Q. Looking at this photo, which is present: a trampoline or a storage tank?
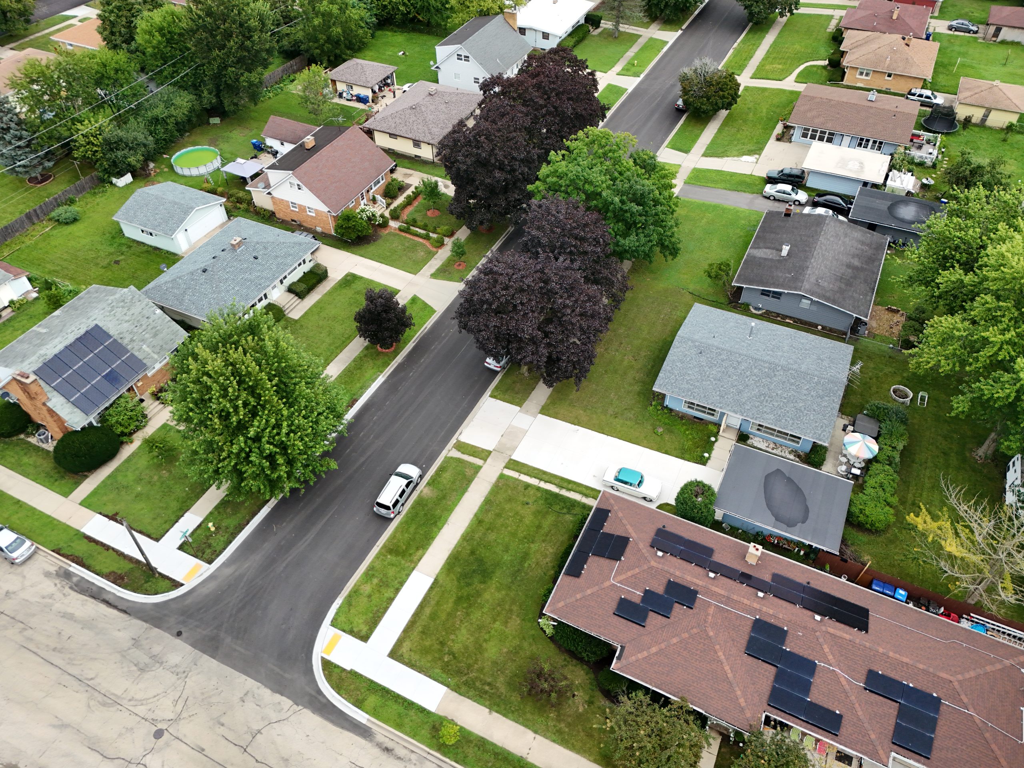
trampoline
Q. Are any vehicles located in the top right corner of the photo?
Yes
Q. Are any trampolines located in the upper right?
Yes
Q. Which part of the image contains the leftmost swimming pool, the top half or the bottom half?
top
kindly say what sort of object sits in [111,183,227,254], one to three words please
building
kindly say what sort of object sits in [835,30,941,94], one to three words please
house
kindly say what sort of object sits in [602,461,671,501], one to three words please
car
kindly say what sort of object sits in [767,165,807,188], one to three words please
car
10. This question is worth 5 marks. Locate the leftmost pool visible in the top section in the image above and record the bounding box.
[177,149,224,178]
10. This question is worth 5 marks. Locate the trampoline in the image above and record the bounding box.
[920,105,960,138]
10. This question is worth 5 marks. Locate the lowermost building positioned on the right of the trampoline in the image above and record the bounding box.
[955,77,1024,132]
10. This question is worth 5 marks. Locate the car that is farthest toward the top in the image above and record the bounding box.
[947,19,982,33]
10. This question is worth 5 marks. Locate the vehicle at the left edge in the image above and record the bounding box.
[0,530,31,567]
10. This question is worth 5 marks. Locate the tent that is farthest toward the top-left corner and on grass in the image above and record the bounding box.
[222,157,268,191]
